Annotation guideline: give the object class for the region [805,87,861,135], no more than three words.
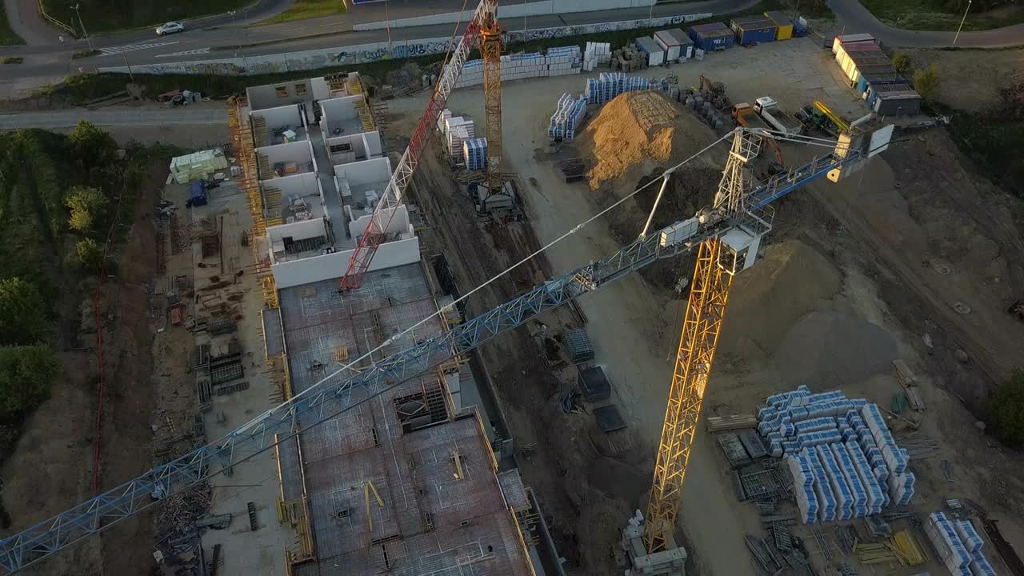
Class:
truck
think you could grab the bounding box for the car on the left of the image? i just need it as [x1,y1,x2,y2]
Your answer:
[155,21,182,34]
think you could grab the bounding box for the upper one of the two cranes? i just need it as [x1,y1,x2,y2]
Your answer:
[333,0,519,293]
